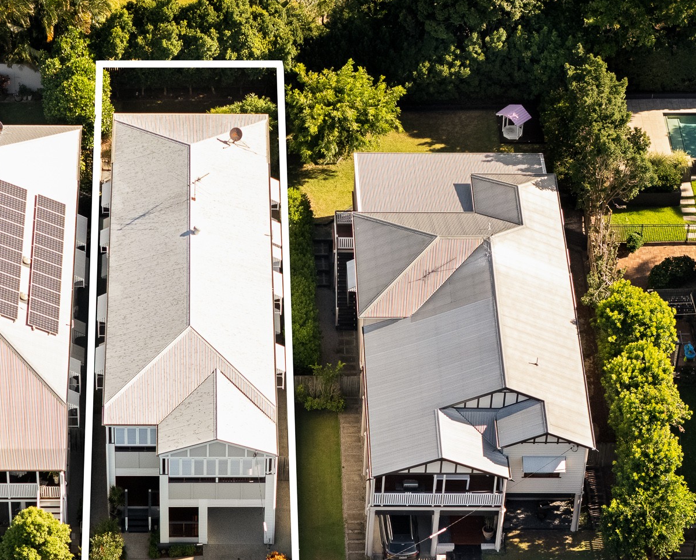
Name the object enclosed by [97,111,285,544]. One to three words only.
house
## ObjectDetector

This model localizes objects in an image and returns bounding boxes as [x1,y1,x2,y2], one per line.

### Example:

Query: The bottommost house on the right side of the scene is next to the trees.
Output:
[334,159,597,557]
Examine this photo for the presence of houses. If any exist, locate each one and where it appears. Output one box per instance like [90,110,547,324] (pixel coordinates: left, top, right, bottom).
[97,111,285,544]
[0,124,89,550]
[334,159,597,557]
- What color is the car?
black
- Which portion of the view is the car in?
bottom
